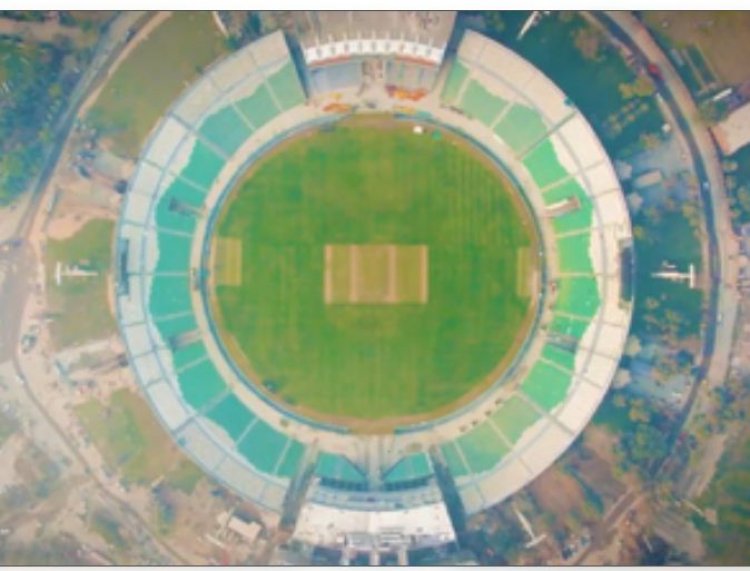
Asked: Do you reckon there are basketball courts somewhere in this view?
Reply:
No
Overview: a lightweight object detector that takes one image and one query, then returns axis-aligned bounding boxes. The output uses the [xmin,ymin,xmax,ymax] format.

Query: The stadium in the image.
[116,0,634,571]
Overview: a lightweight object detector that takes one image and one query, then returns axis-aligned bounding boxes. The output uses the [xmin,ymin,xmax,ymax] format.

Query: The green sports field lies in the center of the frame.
[207,118,541,430]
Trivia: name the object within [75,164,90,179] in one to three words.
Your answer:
vehicle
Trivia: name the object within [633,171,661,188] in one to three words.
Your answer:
building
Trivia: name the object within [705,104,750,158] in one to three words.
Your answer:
building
